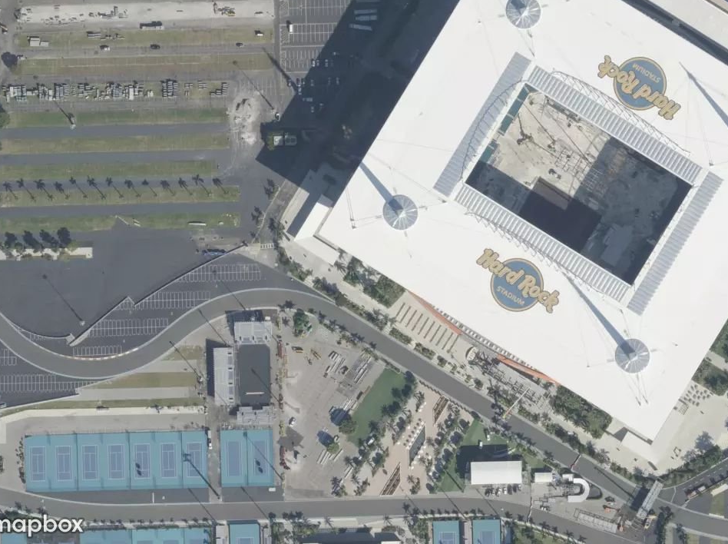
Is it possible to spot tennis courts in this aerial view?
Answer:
Yes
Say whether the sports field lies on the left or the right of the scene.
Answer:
right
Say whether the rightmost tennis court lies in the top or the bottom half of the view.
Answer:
bottom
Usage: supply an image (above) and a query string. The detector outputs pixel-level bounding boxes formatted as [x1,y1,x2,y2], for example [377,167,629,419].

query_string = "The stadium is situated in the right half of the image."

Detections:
[294,0,728,464]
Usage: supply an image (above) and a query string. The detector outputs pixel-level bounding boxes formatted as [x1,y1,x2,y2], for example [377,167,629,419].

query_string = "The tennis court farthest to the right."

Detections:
[473,519,500,544]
